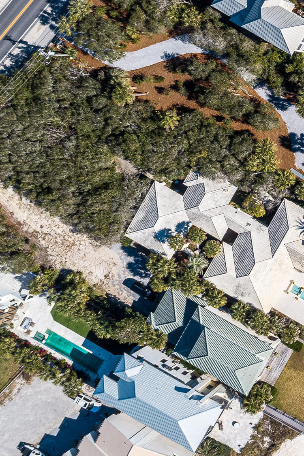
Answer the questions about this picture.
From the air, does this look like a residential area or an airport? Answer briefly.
residential area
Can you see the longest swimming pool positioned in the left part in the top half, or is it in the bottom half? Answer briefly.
bottom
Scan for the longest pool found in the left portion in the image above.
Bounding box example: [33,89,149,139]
[42,328,107,375]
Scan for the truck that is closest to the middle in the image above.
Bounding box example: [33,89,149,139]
[125,281,156,304]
